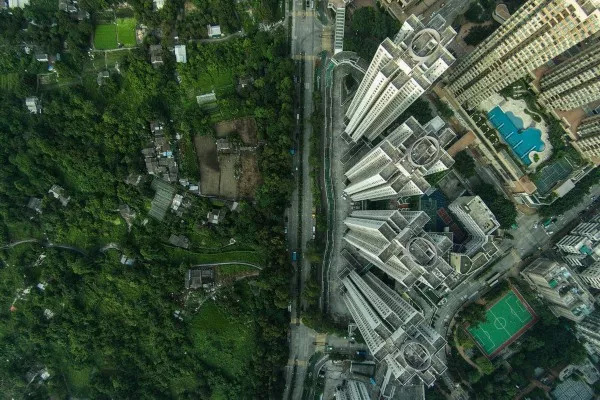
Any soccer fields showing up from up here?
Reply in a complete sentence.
Yes, there's a soccer field down there.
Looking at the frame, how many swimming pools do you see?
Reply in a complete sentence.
In total, 1 swimming pool can be seen.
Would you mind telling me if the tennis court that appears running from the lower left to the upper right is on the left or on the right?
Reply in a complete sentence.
You can find the tennis court that appears running from the lower left to the upper right on the right side of the picture.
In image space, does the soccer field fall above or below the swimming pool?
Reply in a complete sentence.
You can see the soccer field below the swimming pool in the frame.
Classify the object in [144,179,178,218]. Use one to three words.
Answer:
house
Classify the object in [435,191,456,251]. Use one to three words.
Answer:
basketball court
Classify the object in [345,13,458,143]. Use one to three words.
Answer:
building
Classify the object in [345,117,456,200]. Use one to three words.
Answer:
building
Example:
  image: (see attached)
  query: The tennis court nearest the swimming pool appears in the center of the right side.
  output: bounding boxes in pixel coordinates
[534,159,577,194]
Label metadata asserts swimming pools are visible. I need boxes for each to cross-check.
[485,97,553,173]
